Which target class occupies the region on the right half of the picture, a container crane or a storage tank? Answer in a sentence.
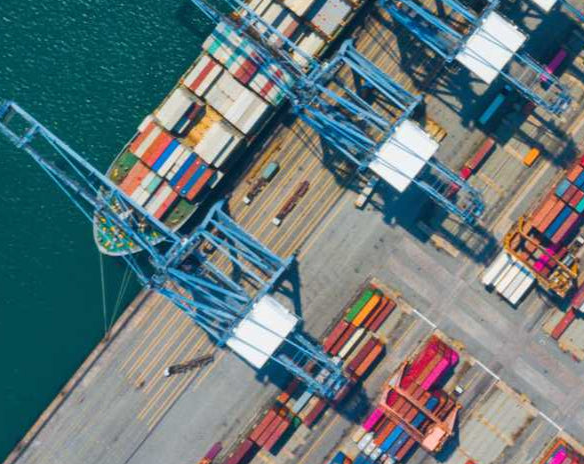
Visible on the right half of the picture is a container crane.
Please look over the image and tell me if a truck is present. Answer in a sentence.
Yes, the picture does show a truck.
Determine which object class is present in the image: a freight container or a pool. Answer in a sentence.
Of the two, only a freight container appears.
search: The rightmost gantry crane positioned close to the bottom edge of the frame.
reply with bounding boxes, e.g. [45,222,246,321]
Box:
[376,360,459,452]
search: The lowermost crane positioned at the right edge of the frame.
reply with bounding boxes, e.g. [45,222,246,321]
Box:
[496,213,578,297]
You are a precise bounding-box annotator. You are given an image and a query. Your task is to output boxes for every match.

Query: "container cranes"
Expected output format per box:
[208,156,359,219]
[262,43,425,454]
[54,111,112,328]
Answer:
[496,213,578,297]
[374,0,581,120]
[185,0,496,227]
[376,360,459,452]
[0,99,359,399]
